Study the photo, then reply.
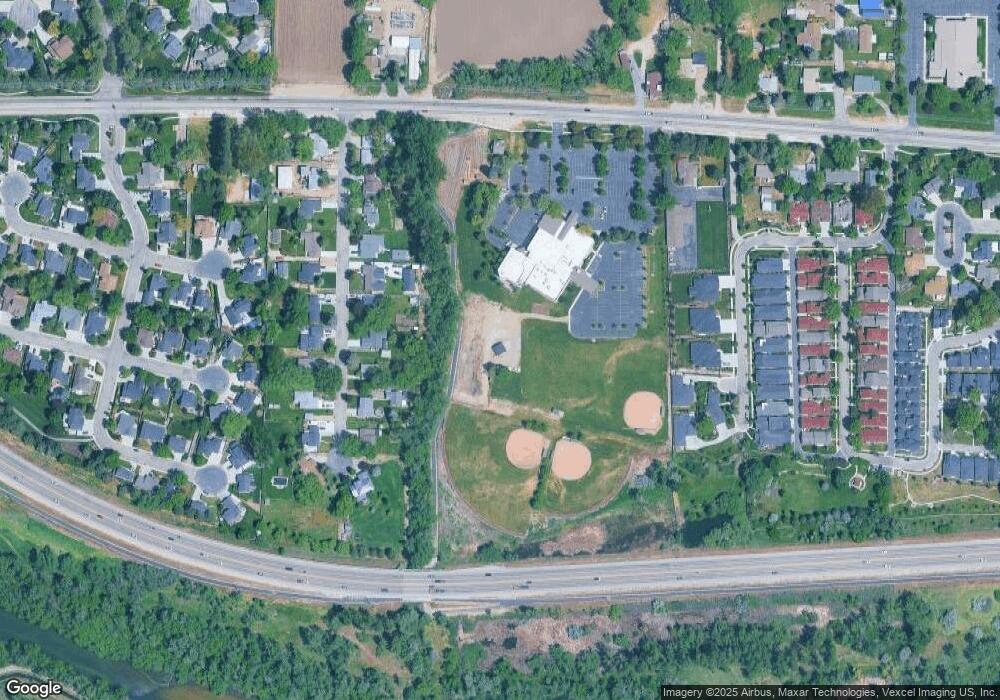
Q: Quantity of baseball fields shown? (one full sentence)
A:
There are 3 baseball fields in the image.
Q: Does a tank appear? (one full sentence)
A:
No, the frame has no tank in it.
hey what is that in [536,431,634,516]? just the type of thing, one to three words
baseball field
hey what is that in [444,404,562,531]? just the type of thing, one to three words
baseball field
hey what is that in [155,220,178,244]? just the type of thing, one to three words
house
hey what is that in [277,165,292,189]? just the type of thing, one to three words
barn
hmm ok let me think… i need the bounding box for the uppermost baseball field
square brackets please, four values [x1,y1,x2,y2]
[581,350,665,438]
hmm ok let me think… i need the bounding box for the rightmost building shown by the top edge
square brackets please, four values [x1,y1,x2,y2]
[930,17,986,88]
